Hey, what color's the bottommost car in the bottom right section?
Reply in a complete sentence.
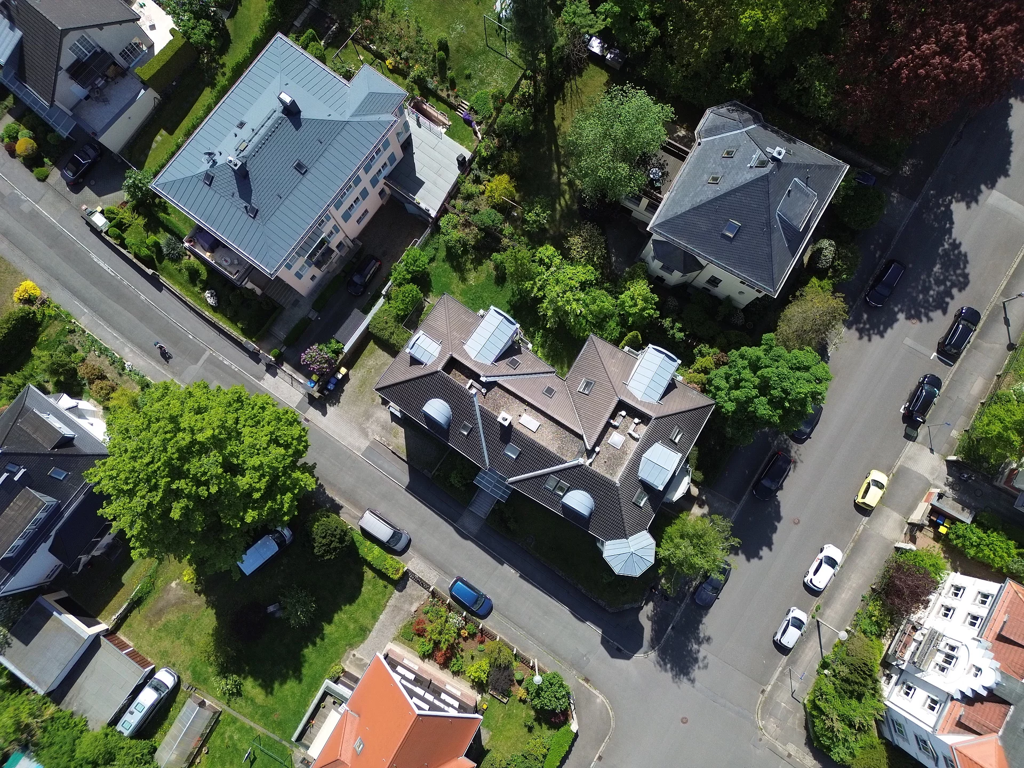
In this view, the bottommost car in the bottom right section is white.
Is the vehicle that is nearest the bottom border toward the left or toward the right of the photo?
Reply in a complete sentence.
You can find the vehicle that is nearest the bottom border on the left side of the picture.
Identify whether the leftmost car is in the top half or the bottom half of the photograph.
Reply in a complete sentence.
The top half of the photo is where the leftmost car is.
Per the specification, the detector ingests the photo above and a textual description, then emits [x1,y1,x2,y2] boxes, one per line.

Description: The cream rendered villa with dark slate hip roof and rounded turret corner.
[618,100,851,306]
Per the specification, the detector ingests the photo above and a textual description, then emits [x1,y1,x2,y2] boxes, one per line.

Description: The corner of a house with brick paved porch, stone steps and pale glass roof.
[996,460,1024,510]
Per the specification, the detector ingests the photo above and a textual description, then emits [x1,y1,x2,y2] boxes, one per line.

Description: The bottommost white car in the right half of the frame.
[773,605,808,651]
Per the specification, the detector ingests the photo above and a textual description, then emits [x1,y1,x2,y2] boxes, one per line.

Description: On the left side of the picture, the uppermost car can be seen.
[60,141,104,188]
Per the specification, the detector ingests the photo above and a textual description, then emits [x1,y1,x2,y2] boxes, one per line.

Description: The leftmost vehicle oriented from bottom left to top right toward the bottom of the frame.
[114,664,185,735]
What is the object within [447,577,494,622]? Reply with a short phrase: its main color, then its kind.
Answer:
blue car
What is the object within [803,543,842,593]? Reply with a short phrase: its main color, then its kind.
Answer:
white car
